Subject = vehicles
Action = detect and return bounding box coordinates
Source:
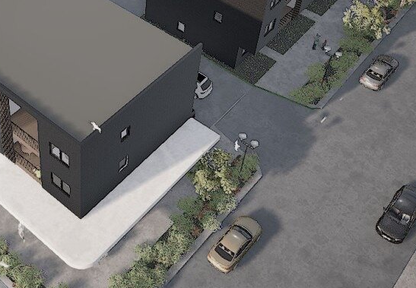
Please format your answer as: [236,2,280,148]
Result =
[363,58,398,91]
[194,70,218,101]
[208,219,259,275]
[376,189,416,244]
